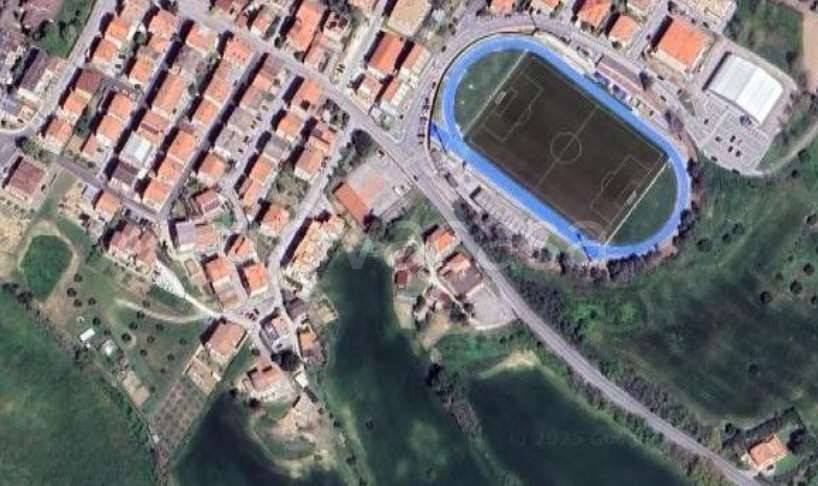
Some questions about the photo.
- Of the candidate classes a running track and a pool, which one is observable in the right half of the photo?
running track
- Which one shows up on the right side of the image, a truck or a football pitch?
football pitch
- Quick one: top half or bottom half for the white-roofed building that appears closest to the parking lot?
top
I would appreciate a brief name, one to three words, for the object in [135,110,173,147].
building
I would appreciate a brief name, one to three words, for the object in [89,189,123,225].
shed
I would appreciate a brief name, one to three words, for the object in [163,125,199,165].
house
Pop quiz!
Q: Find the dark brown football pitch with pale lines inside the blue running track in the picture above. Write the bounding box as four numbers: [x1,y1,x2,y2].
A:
[460,51,670,246]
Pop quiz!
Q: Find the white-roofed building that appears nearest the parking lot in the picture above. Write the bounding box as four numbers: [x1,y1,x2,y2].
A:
[705,56,784,124]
